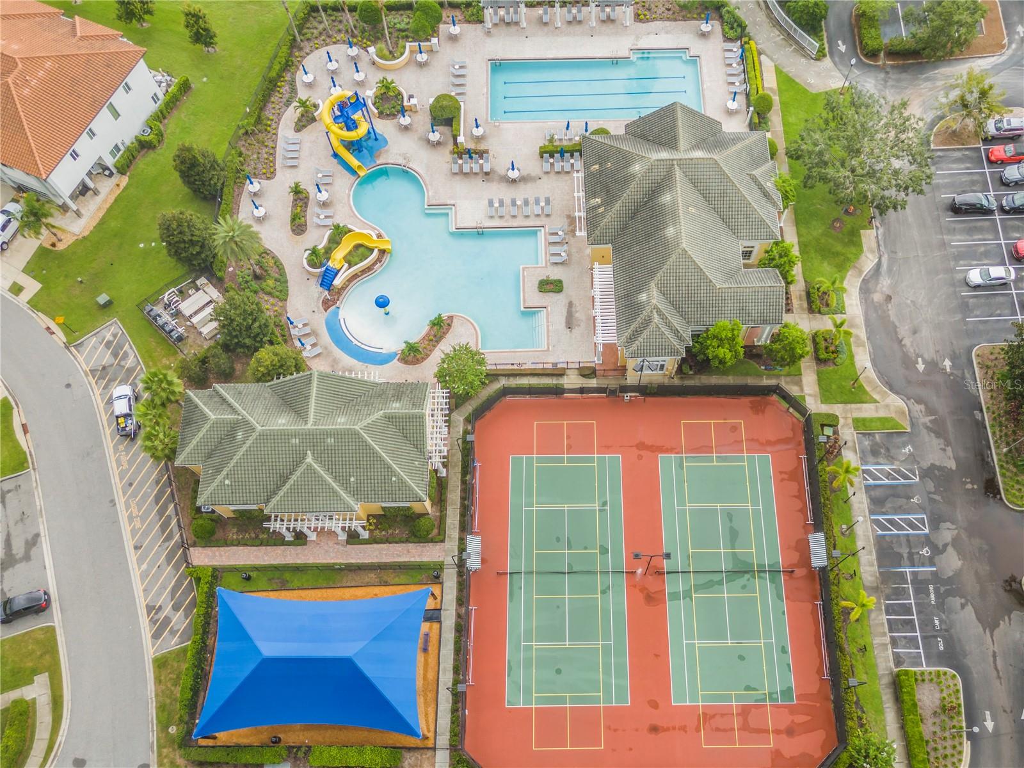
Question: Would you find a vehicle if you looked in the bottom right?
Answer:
No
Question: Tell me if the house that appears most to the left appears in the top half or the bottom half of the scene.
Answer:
top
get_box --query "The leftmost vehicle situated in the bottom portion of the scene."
[0,593,51,621]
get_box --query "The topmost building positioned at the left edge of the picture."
[0,0,159,204]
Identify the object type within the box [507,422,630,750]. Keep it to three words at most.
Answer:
tennis court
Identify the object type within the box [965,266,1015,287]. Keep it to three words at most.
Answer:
car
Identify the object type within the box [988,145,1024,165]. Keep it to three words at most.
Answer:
car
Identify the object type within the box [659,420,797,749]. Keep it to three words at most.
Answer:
tennis court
